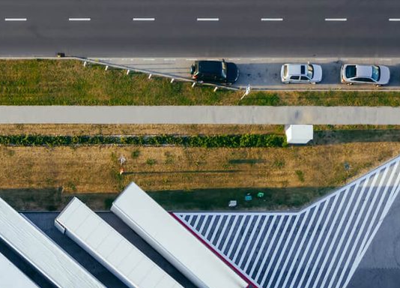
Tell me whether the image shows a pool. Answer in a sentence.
No, the frame has no pool in it.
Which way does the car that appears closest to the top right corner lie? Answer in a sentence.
In this picture, the car that appears closest to the top right corner lies horizontally.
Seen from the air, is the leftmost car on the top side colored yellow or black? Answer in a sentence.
The leftmost car on the top side is black.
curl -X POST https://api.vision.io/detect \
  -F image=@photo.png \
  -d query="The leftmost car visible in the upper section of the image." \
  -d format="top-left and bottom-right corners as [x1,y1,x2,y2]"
[189,56,236,82]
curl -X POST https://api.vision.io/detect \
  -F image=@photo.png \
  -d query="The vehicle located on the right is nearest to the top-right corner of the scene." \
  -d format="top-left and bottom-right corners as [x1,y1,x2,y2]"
[337,60,388,85]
